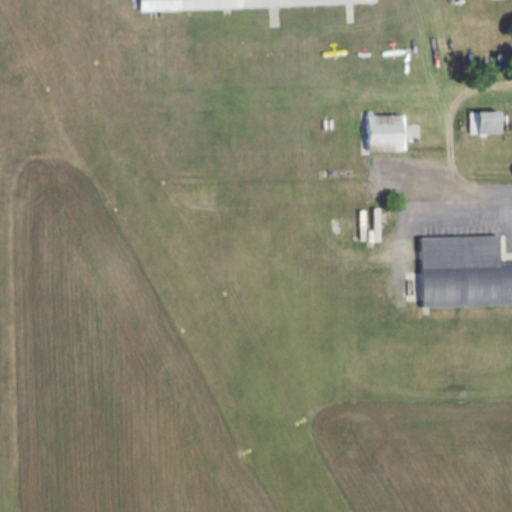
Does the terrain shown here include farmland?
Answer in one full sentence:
Yes, the picture does contain farmland.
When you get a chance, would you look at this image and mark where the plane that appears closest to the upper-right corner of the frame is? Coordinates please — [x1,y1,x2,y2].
[384,44,406,60]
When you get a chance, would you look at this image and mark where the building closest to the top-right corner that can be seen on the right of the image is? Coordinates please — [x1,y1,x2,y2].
[469,112,504,138]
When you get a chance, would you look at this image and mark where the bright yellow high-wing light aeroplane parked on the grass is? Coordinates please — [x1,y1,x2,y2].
[324,44,347,60]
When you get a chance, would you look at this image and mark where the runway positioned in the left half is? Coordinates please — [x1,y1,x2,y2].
[47,64,300,454]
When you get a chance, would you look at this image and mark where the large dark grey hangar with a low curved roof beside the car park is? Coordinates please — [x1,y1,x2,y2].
[421,238,512,306]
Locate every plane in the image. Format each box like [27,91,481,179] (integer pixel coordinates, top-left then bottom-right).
[384,44,406,60]
[324,44,347,60]
[358,48,371,58]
